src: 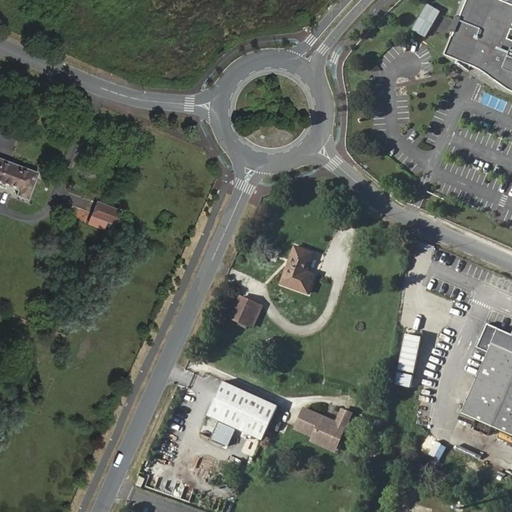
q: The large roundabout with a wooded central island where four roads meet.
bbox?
[180,38,346,194]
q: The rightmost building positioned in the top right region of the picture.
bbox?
[442,0,512,95]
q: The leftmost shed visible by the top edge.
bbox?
[412,4,440,38]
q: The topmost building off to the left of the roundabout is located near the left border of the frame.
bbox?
[0,156,40,204]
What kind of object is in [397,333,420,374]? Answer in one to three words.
building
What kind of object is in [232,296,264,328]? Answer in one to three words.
barn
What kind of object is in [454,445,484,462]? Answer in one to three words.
vehicle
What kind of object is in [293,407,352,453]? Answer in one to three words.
house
